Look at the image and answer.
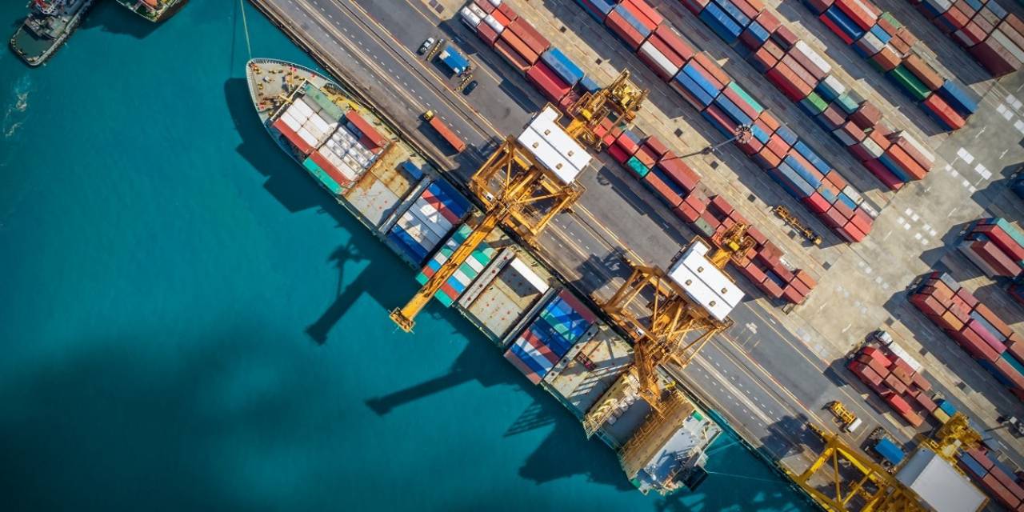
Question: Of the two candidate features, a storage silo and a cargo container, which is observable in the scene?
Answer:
cargo container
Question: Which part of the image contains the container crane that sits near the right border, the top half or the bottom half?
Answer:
bottom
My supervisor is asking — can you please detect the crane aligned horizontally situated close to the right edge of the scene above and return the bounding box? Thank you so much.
[762,405,996,512]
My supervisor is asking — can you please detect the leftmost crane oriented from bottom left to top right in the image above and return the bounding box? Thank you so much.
[396,55,657,331]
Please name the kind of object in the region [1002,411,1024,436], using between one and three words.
truck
